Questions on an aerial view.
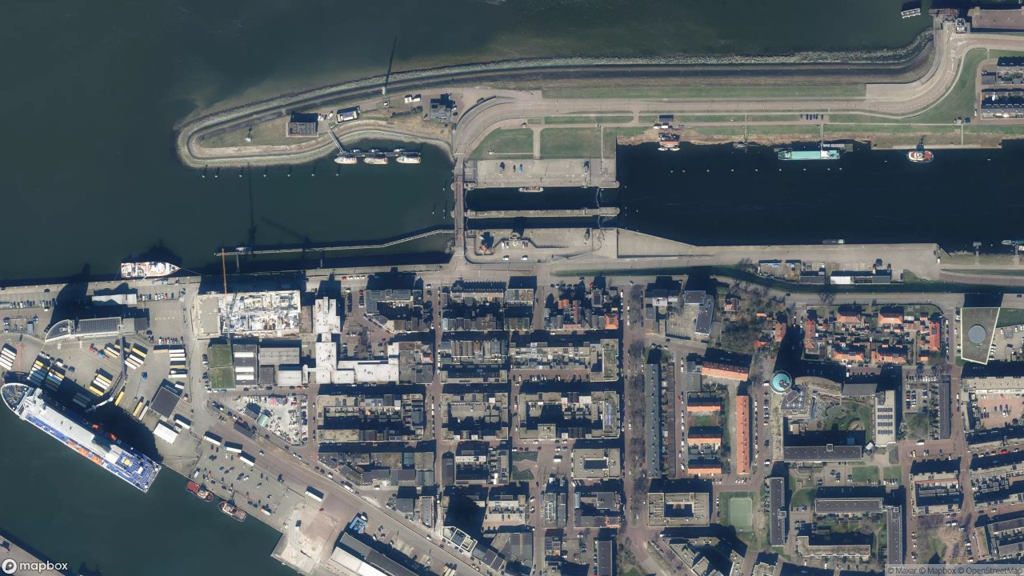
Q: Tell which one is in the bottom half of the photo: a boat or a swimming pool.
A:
boat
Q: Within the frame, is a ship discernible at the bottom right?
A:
No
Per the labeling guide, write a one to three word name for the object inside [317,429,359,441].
building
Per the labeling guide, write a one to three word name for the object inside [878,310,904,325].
house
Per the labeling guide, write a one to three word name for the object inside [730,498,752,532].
sports court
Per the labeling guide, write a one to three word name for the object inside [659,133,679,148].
boat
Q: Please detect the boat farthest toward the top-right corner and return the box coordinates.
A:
[908,150,934,162]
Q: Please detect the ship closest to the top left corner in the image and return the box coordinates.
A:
[121,262,180,284]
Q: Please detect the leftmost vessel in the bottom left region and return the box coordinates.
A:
[0,383,161,492]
